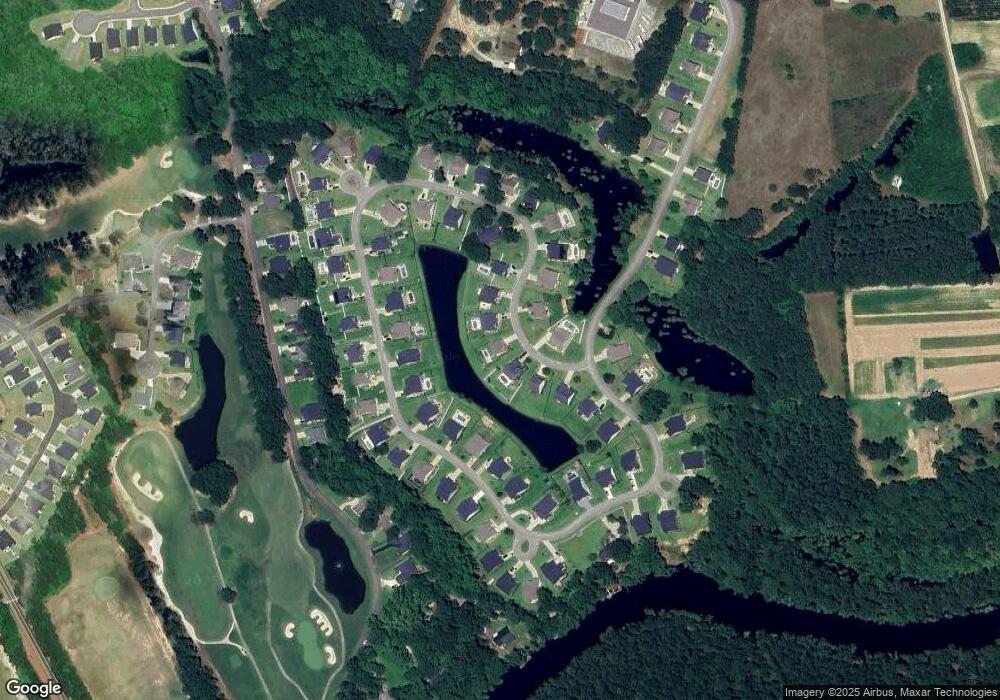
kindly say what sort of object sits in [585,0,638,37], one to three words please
building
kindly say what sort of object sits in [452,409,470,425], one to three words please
swimming pool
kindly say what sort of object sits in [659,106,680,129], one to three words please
house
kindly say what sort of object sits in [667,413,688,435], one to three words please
house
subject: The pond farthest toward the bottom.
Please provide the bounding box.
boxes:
[304,518,365,614]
